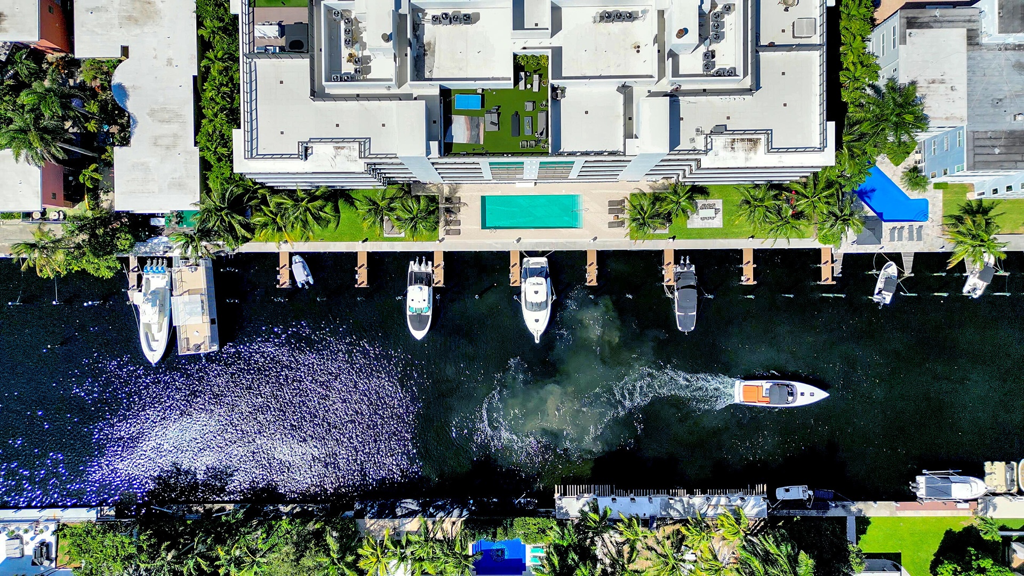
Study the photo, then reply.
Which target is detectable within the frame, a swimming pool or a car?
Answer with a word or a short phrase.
swimming pool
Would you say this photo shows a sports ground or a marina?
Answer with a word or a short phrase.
marina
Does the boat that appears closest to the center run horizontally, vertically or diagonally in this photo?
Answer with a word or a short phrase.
vertically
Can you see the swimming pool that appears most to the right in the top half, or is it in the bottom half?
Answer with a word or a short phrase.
top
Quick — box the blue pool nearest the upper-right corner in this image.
[851,163,935,225]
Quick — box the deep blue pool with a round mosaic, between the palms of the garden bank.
[469,536,528,576]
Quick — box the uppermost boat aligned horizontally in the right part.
[732,380,829,406]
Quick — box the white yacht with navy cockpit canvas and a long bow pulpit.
[521,257,553,343]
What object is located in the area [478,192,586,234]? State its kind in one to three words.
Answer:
swimming pool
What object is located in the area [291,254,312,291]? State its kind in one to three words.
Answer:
boat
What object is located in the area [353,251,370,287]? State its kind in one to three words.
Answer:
pier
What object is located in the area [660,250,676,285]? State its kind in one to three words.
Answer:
pier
